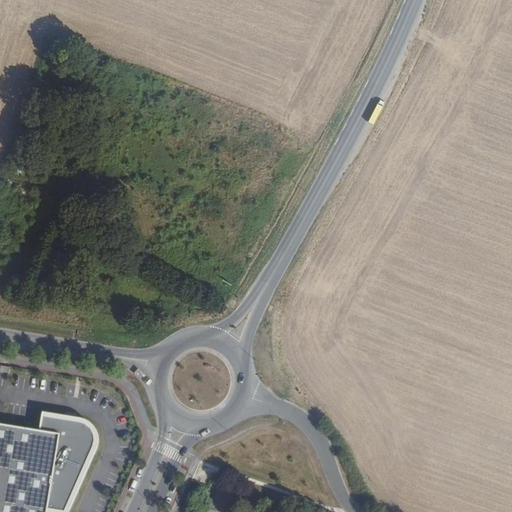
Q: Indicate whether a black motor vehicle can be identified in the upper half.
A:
No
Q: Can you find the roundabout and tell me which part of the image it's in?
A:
bottom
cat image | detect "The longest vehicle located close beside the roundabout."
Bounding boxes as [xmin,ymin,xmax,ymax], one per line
[133,368,151,385]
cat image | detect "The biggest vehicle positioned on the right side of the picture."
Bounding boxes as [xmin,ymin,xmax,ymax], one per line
[368,97,384,124]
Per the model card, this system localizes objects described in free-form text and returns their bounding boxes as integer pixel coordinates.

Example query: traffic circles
[148,328,254,434]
